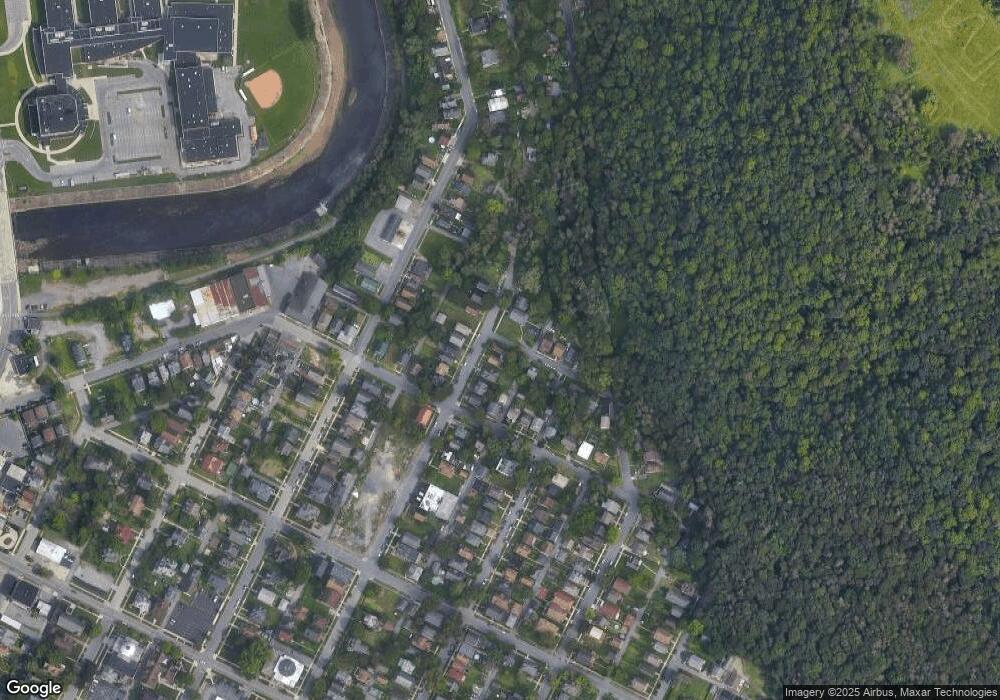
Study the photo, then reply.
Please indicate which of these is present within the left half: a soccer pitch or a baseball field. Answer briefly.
baseball field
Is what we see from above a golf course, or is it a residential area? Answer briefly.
residential area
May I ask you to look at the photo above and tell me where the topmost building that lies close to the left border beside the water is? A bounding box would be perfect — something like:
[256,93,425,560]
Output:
[28,0,241,163]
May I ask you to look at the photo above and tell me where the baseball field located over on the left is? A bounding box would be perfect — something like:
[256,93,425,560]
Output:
[238,42,314,142]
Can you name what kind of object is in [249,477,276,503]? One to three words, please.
house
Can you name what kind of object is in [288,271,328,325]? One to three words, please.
building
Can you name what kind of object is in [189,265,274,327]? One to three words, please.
building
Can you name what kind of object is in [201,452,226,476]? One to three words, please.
house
